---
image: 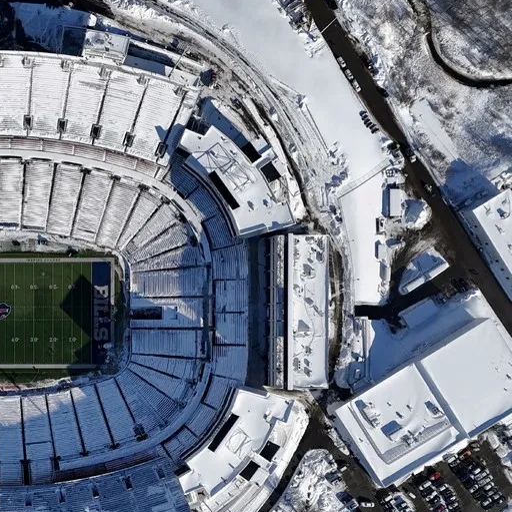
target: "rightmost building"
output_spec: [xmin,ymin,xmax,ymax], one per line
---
[458,183,512,282]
